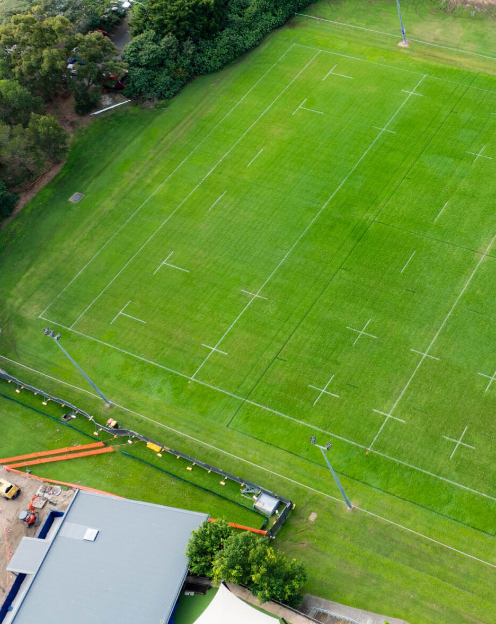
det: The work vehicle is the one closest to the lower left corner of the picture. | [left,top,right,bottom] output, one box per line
[17,495,41,533]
